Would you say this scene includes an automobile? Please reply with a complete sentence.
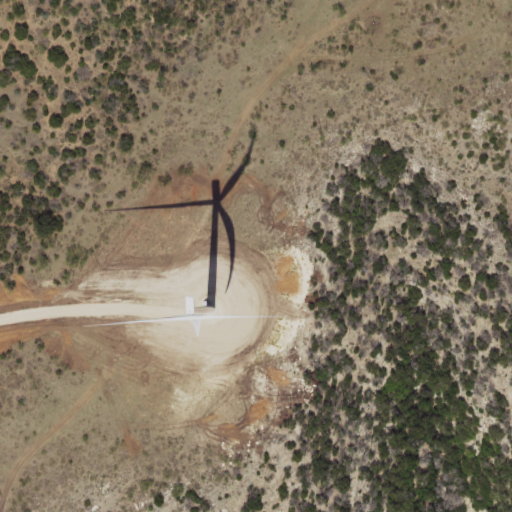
No, the picture doesn't show any automobile.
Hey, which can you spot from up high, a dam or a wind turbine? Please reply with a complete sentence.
I can see a wind turbine in this picture.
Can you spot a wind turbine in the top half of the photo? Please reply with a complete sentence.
No, in the top half of the photo there is no wind turbine.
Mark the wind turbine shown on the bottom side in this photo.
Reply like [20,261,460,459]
[80,298,240,336]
